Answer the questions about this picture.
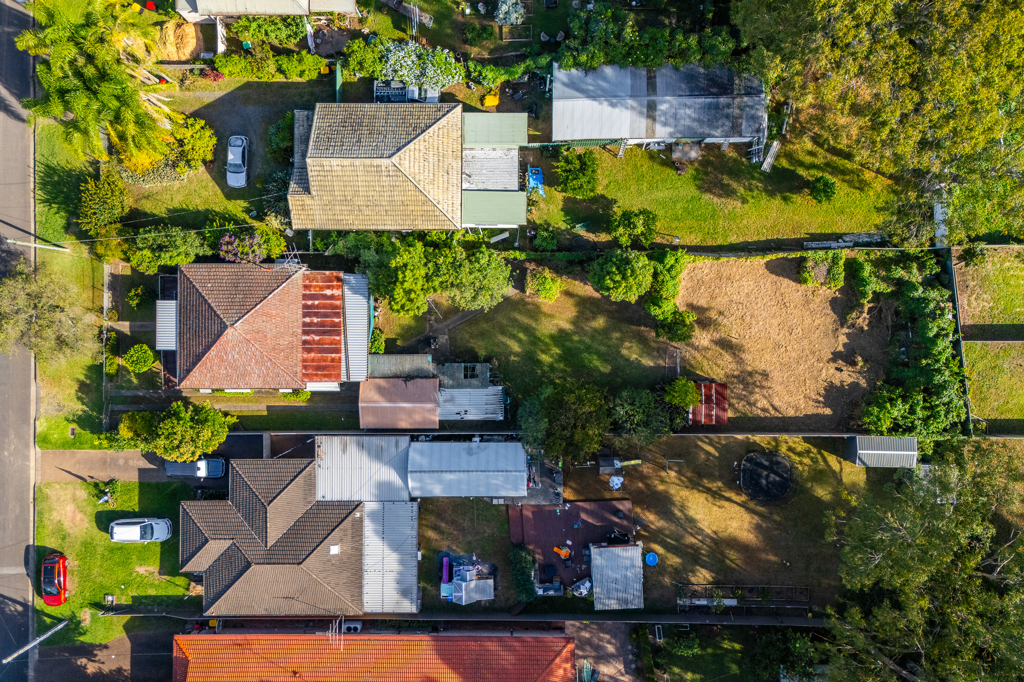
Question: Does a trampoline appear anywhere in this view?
Yes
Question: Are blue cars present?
Yes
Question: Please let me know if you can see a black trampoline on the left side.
No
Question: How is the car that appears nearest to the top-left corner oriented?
vertically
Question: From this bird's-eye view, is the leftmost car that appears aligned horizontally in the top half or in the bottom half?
bottom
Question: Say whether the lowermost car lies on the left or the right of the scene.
left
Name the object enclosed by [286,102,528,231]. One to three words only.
house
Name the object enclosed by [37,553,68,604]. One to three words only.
car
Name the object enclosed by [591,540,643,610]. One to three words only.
shed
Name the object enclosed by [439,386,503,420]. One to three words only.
shed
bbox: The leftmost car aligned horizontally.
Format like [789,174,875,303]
[110,517,172,545]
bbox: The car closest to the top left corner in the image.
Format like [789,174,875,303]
[223,135,250,188]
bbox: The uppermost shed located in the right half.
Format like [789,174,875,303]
[552,63,769,149]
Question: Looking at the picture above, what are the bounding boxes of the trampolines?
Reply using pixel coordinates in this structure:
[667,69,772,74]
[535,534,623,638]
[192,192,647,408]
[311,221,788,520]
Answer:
[737,451,800,503]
